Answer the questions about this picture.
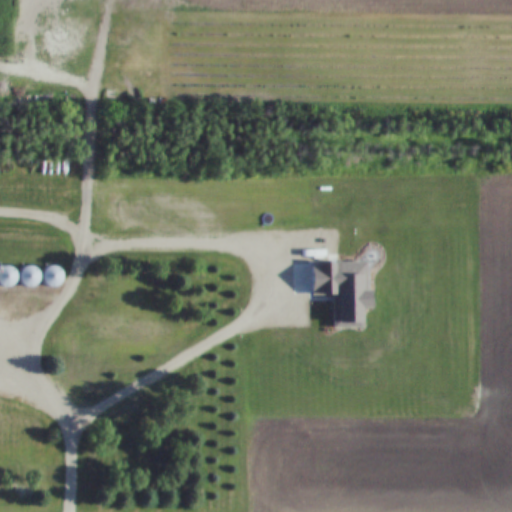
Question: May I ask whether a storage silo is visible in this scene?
Yes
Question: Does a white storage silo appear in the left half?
Yes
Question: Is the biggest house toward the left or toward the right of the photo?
right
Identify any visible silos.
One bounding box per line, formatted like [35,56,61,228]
[19,265,42,286]
[42,265,64,286]
[0,265,18,286]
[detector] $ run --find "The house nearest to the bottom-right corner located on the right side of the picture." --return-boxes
[314,261,376,323]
